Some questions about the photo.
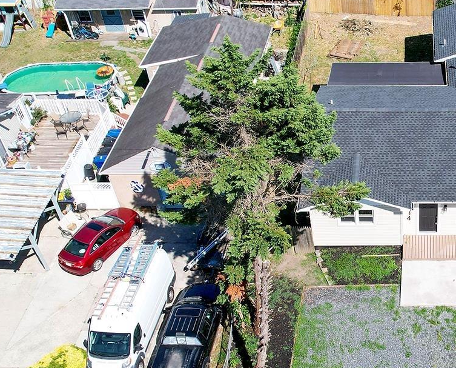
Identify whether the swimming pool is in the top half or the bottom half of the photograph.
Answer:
top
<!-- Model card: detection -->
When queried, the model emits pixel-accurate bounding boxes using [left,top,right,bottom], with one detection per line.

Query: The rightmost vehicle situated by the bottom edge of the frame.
[150,284,225,368]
